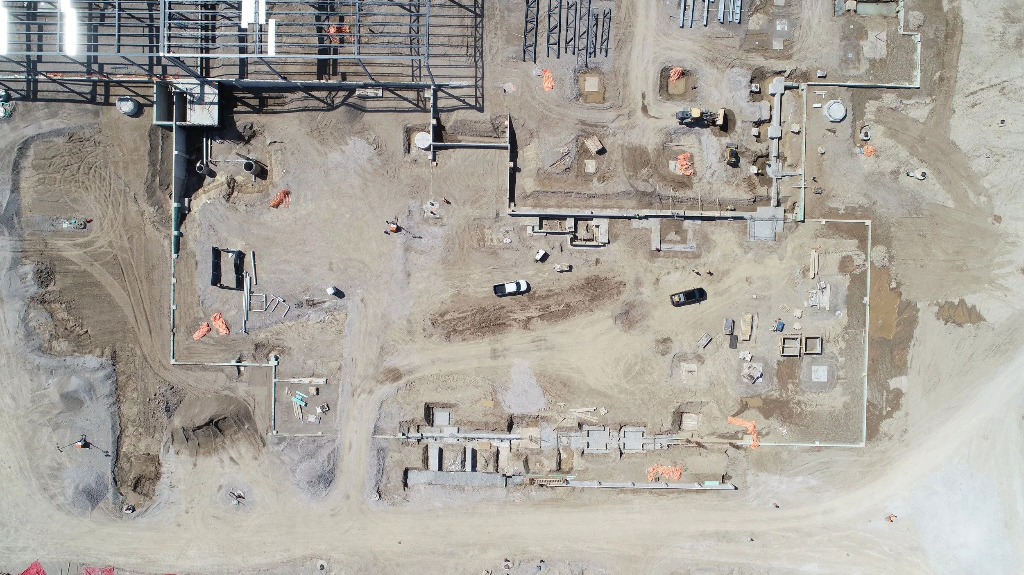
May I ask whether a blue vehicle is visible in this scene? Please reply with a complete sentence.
No, no blue vehicle is visible in the view.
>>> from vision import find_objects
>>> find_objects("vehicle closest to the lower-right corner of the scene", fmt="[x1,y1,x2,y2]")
[671,288,708,307]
